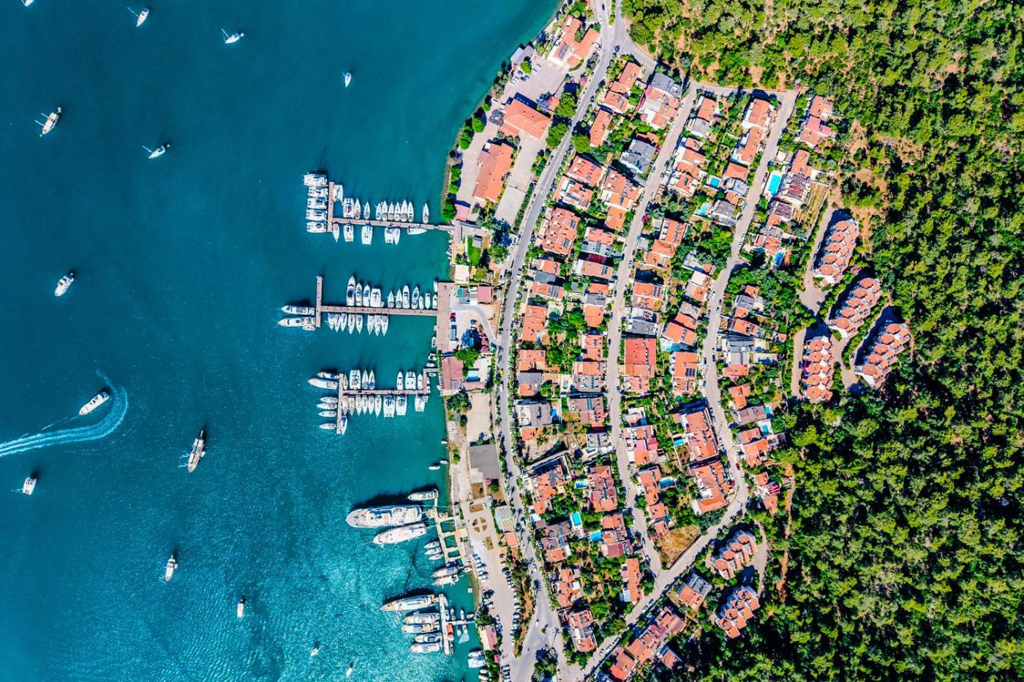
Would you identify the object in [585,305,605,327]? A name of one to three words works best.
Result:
house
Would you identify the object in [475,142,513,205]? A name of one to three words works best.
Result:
building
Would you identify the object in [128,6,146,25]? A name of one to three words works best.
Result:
boat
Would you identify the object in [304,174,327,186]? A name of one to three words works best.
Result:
boat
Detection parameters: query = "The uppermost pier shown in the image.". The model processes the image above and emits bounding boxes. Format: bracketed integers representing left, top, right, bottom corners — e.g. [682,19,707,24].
[329,182,451,231]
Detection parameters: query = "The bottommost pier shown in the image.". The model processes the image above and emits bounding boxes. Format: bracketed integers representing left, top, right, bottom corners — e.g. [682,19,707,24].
[439,594,477,655]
